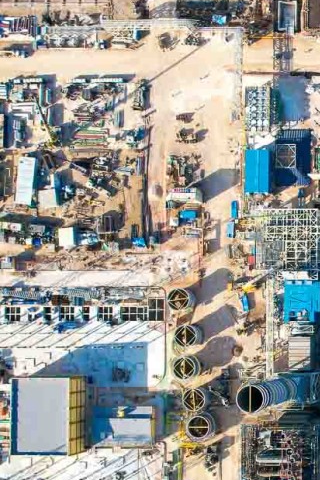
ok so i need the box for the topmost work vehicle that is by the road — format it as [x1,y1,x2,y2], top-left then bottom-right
[134,65,146,89]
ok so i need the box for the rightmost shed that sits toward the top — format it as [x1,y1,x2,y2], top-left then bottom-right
[272,129,313,188]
